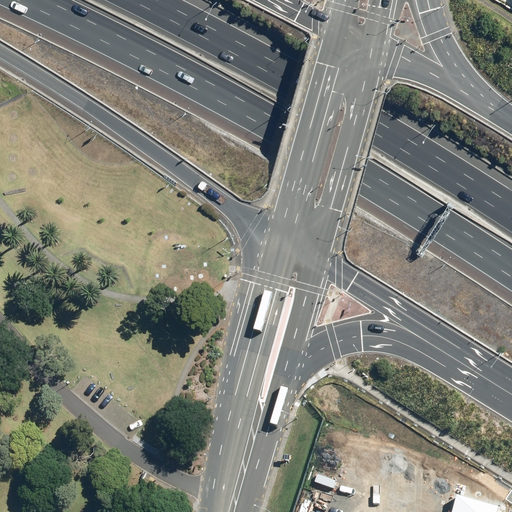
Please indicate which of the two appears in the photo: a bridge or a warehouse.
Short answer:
bridge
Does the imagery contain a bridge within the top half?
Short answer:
Yes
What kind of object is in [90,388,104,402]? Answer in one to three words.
vehicle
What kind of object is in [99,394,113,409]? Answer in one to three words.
car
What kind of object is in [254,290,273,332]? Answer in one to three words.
vehicle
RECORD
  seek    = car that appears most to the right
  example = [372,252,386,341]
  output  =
[458,191,473,203]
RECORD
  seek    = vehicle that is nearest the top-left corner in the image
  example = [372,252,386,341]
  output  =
[10,2,28,14]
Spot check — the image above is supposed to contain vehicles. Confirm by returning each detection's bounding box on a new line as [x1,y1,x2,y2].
[191,23,206,34]
[128,420,143,430]
[339,485,355,495]
[254,290,273,332]
[90,388,104,402]
[200,184,222,202]
[10,2,28,14]
[458,191,473,203]
[83,382,96,396]
[178,72,194,84]
[72,5,88,16]
[218,52,234,62]
[310,10,326,20]
[269,386,288,428]
[99,394,113,409]
[328,507,344,512]
[368,324,384,332]
[139,66,152,76]
[372,484,380,505]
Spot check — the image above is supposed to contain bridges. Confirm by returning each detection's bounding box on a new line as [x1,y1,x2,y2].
[265,35,394,252]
